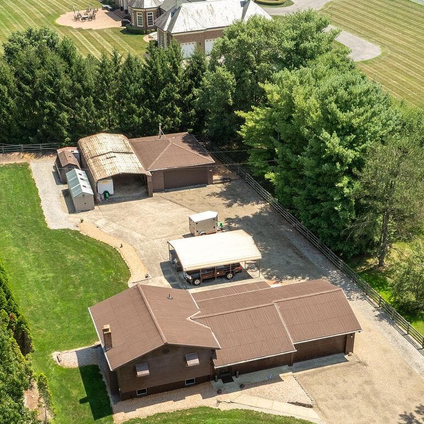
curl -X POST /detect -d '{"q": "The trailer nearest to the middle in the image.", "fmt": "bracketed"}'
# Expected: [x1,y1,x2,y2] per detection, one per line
[188,211,223,235]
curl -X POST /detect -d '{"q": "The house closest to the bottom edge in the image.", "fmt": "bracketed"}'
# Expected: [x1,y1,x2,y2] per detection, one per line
[85,279,369,401]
